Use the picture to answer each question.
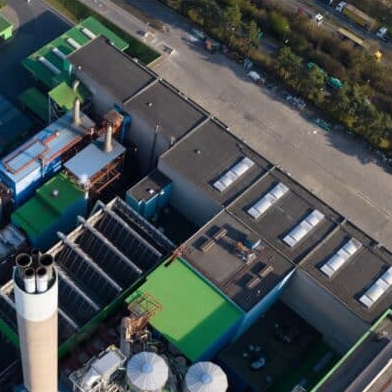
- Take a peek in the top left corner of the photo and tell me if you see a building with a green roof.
Yes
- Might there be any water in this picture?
No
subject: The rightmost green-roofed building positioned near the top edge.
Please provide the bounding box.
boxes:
[22,17,129,113]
